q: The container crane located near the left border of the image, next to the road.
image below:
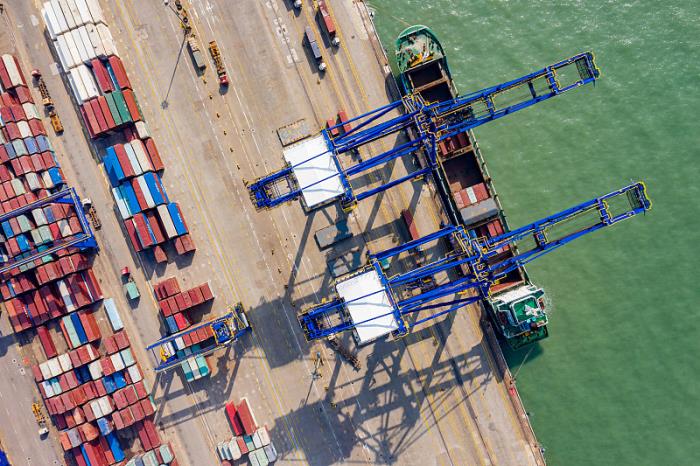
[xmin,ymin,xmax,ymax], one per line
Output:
[0,185,105,275]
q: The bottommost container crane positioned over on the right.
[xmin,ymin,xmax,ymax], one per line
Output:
[292,180,656,346]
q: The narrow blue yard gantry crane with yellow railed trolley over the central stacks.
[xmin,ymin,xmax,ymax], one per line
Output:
[145,299,256,374]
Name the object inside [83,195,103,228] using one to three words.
vehicle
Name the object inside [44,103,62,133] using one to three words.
vehicle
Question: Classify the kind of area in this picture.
port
